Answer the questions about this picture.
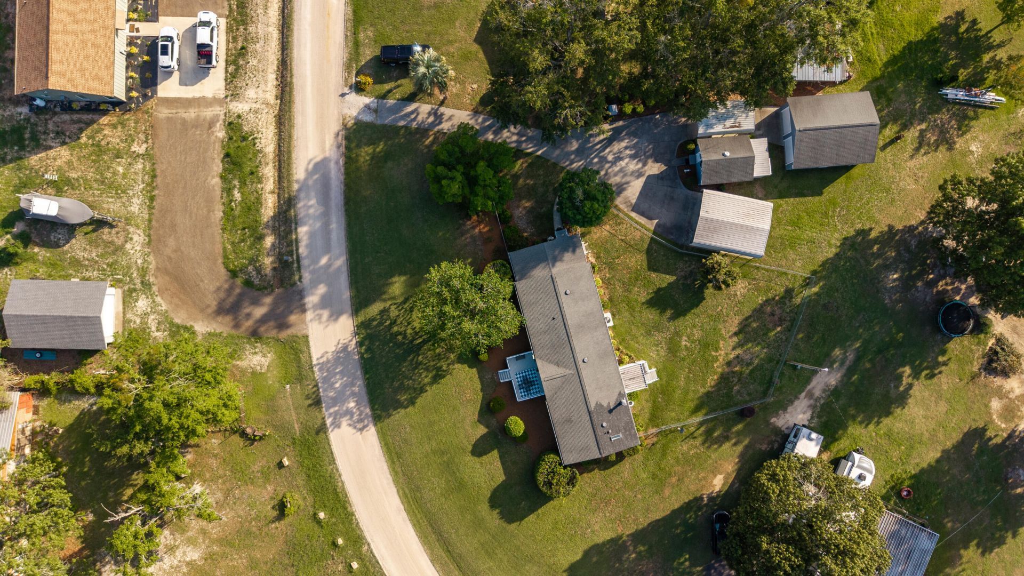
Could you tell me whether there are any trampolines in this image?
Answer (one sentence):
Yes, you can see a trampoline in this photo.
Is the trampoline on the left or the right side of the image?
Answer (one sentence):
The trampoline is on the right side of the image.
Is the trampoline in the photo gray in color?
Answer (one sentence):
No, from above the trampoline looks black.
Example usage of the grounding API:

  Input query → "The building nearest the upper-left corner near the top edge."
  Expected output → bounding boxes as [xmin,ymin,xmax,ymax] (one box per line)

[15,0,135,102]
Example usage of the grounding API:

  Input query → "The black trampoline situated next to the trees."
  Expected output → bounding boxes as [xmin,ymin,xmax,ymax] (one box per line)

[934,301,974,336]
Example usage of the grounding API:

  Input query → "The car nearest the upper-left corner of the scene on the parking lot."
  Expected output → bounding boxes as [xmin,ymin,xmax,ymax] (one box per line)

[158,27,183,73]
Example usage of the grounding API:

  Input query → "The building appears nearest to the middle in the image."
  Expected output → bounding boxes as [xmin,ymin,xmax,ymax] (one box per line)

[507,229,640,465]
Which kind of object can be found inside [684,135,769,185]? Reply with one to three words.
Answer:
shed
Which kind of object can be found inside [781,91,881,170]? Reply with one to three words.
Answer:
building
